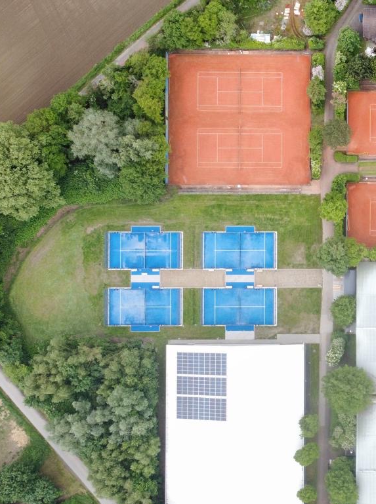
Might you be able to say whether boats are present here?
No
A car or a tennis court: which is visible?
tennis court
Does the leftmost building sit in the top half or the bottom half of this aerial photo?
bottom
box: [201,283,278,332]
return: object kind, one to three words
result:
sports court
